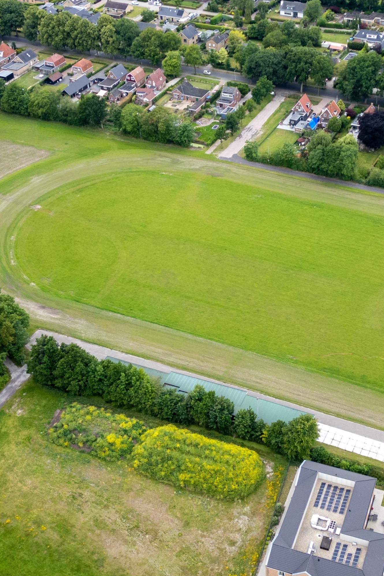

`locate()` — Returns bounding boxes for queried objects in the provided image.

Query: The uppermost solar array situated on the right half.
[313,482,351,514]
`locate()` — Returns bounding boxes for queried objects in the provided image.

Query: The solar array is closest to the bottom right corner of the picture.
[331,542,361,566]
